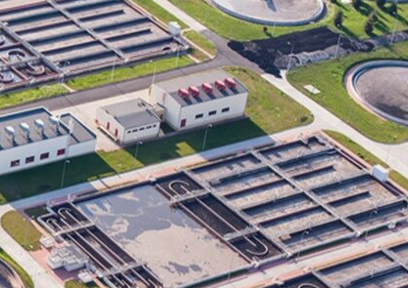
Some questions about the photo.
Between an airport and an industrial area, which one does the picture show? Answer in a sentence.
This looks like an industrial area.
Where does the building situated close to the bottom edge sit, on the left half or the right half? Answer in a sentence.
You can find the building situated close to the bottom edge on the left side of the picture.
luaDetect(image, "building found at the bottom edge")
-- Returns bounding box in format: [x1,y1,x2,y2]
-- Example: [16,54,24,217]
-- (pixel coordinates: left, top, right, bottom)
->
[33,244,86,274]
